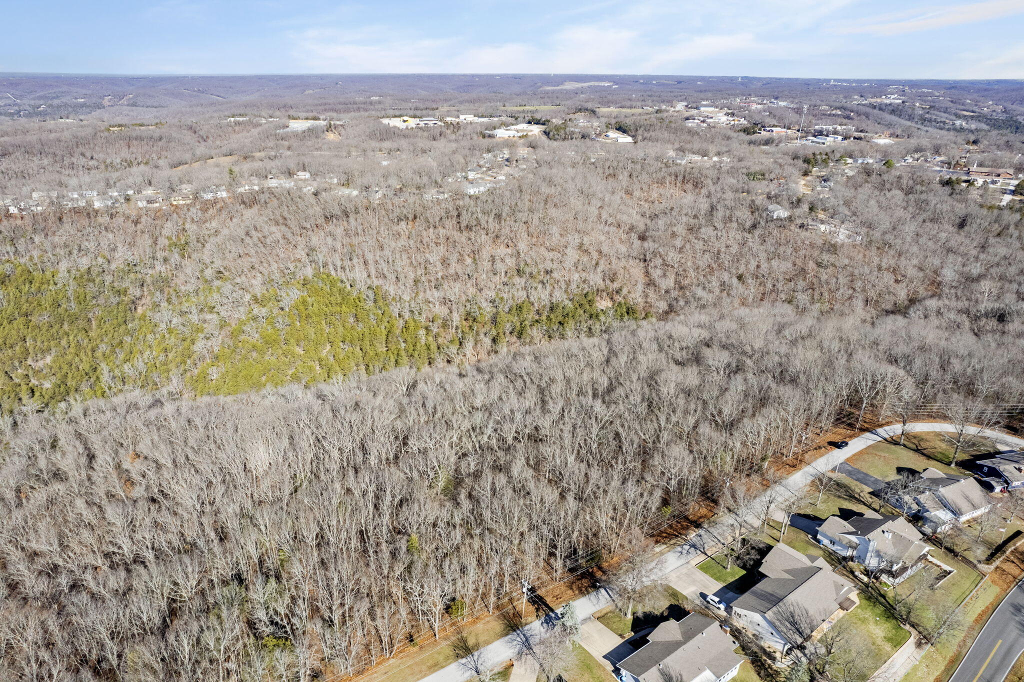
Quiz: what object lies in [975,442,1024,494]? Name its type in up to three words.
house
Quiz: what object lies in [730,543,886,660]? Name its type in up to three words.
house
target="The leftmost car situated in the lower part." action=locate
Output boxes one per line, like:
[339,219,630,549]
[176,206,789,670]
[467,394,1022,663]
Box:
[702,591,730,613]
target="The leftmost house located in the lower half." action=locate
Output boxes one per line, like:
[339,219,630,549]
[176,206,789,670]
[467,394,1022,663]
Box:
[613,612,751,682]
